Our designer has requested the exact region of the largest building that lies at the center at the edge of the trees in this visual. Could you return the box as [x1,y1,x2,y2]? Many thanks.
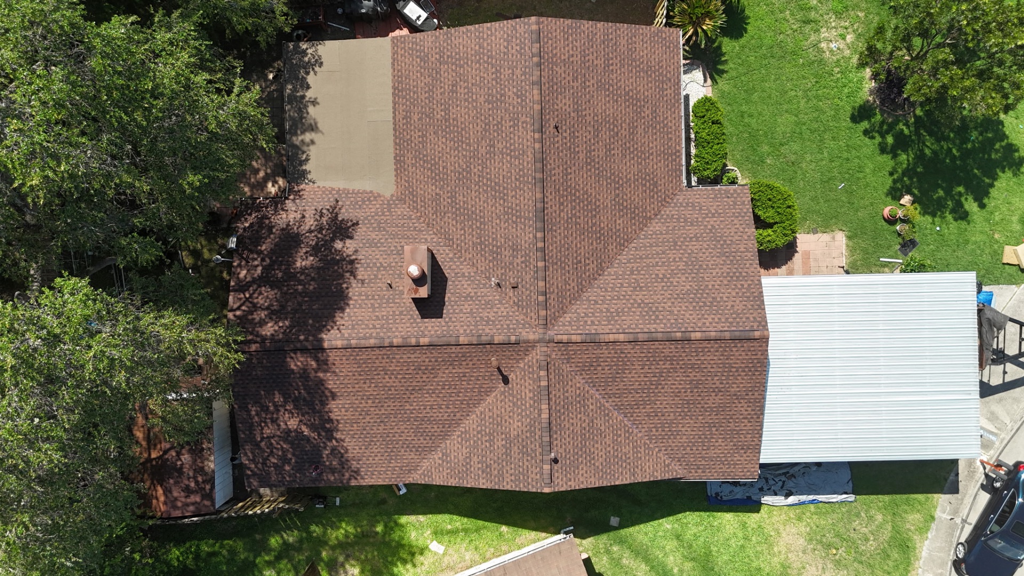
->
[226,15,770,495]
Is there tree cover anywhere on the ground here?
Yes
